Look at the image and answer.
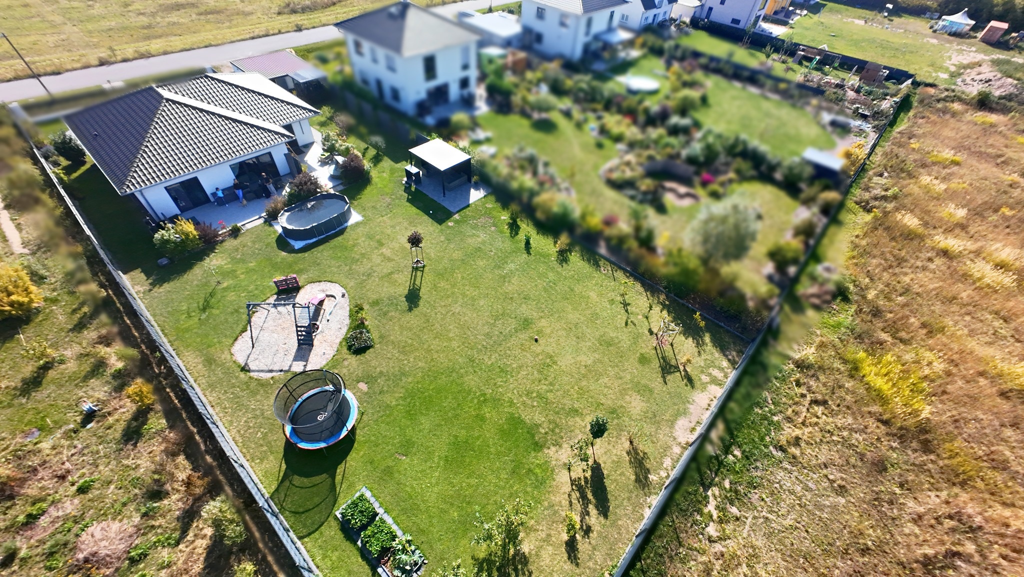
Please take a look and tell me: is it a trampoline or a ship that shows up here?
trampoline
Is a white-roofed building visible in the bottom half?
No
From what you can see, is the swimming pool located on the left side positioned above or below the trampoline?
above it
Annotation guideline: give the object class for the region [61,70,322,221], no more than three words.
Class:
house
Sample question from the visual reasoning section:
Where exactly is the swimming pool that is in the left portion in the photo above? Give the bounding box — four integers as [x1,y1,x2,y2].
[278,193,352,242]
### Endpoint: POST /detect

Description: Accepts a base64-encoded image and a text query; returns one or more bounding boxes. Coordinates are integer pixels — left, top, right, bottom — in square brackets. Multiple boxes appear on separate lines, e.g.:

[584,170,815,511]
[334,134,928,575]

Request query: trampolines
[272,369,370,462]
